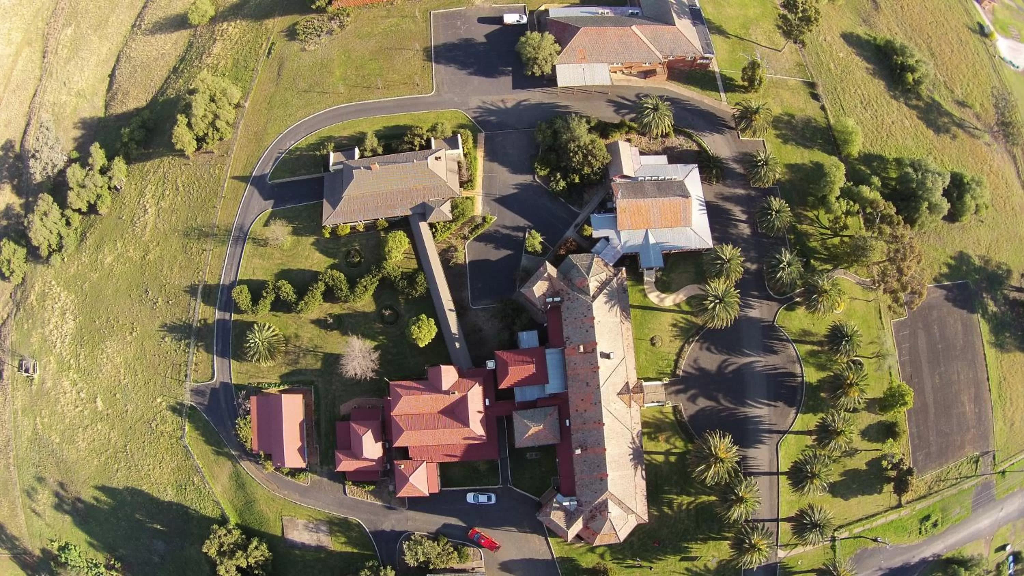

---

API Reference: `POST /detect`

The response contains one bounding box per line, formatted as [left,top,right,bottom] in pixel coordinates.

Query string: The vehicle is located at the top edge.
[503,10,527,24]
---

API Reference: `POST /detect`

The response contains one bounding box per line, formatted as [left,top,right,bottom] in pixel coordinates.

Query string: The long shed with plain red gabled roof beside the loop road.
[250,394,311,468]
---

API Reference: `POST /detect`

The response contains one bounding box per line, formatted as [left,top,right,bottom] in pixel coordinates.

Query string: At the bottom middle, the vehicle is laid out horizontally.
[466,493,495,506]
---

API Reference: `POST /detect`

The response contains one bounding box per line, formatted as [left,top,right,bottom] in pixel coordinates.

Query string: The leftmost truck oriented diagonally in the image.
[468,528,501,558]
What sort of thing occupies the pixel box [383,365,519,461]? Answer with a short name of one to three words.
house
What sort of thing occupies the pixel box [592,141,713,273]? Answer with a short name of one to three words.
building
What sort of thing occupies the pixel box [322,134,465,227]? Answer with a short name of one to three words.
house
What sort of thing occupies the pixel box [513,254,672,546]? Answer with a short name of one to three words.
building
